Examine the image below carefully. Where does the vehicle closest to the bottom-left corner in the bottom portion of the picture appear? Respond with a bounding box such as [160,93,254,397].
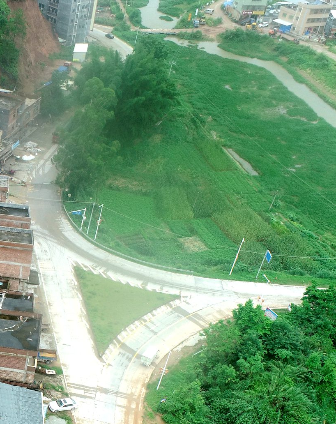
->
[48,398,80,414]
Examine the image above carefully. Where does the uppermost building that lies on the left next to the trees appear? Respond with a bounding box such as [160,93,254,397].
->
[43,0,99,46]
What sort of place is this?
residential area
